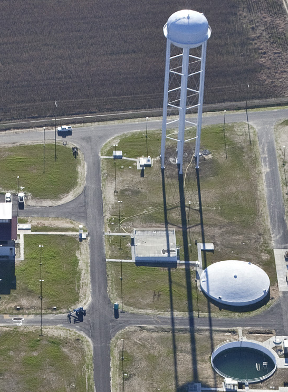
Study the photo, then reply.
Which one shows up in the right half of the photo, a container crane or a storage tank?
storage tank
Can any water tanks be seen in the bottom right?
Yes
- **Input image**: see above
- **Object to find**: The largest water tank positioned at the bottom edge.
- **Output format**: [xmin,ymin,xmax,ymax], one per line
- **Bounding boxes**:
[207,336,282,385]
